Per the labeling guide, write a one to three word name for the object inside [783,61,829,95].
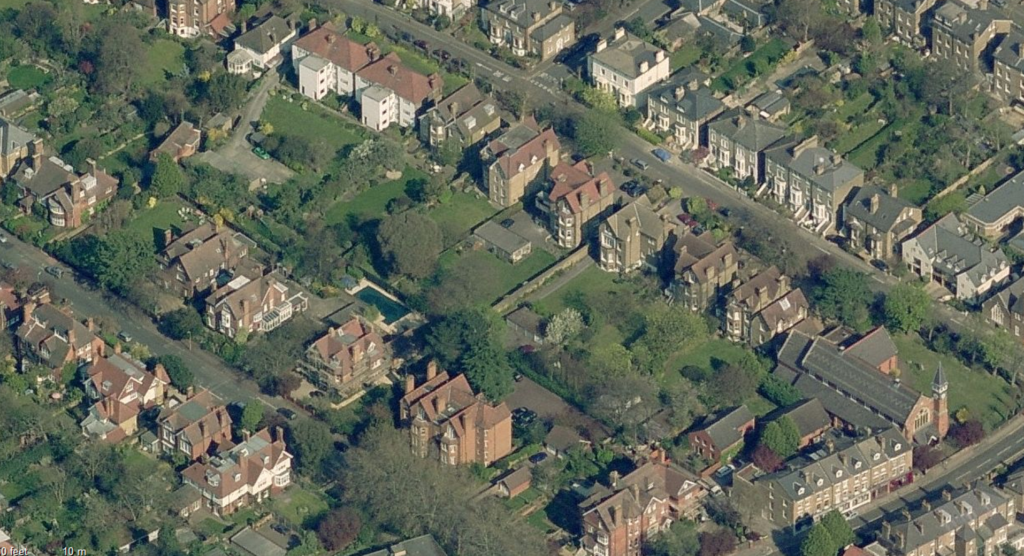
greenhouse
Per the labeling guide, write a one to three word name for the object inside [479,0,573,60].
house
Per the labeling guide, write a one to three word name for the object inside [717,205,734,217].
vehicle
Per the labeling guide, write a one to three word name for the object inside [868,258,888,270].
vehicle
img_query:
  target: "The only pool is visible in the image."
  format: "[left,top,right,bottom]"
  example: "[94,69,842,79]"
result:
[350,284,416,328]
